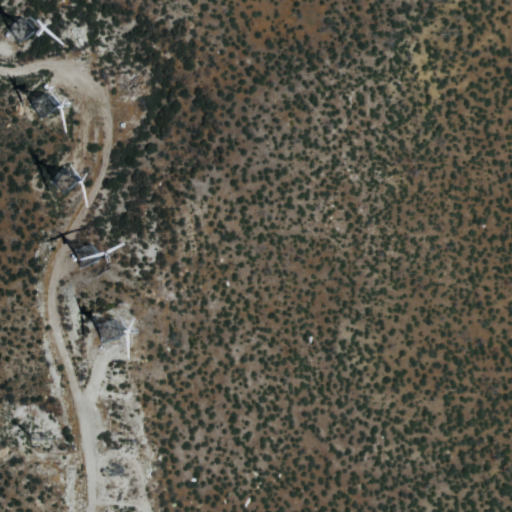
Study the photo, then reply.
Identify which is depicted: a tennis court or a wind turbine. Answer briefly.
wind turbine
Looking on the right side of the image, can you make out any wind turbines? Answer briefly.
No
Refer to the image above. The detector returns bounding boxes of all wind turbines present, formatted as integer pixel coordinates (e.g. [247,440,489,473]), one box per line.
[30,92,72,134]
[11,18,66,48]
[99,316,140,359]
[74,244,125,270]
[50,167,92,209]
